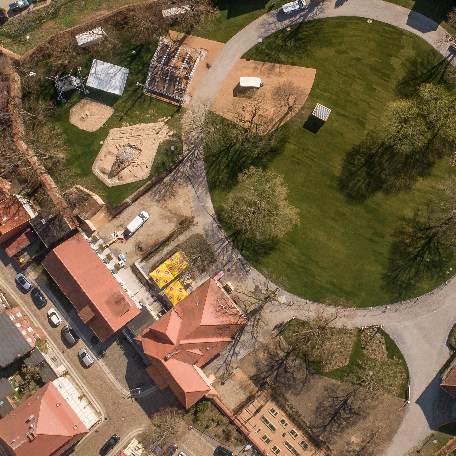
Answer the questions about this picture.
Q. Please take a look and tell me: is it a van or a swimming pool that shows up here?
van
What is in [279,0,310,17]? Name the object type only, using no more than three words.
vehicle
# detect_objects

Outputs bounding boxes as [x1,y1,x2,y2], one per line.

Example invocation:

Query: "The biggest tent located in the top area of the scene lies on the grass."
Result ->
[86,59,132,95]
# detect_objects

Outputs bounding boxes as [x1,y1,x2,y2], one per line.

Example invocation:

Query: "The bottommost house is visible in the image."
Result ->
[114,432,152,456]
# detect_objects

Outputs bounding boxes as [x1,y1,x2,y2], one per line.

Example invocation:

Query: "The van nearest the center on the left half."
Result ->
[121,208,153,238]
